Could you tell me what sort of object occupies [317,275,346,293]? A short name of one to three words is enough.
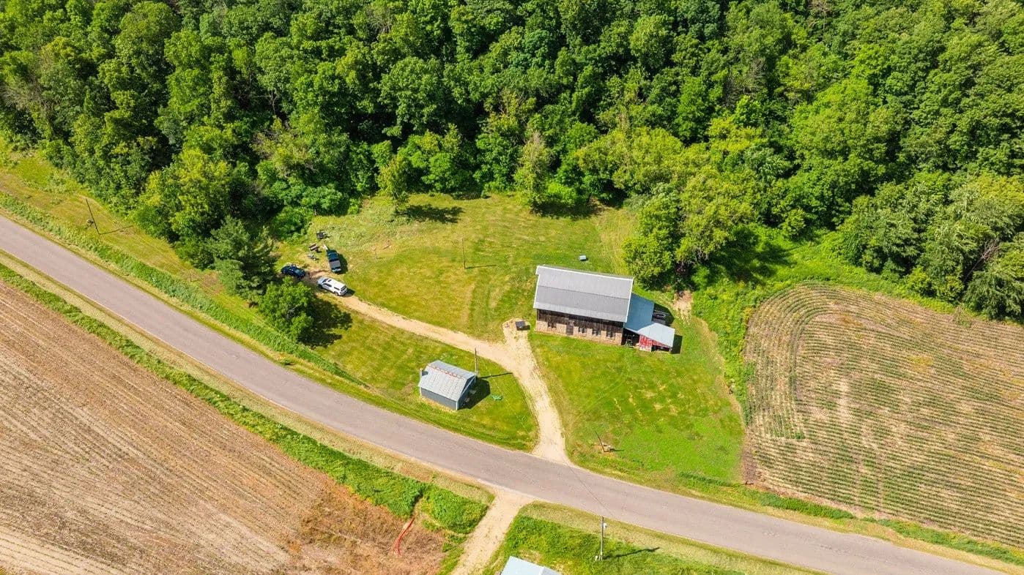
car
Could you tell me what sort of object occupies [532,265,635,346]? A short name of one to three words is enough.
barn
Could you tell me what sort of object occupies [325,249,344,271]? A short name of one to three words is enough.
vehicle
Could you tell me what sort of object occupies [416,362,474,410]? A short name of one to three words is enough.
shed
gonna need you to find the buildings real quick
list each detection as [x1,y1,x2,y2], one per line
[503,557,561,575]
[416,362,474,410]
[532,265,635,346]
